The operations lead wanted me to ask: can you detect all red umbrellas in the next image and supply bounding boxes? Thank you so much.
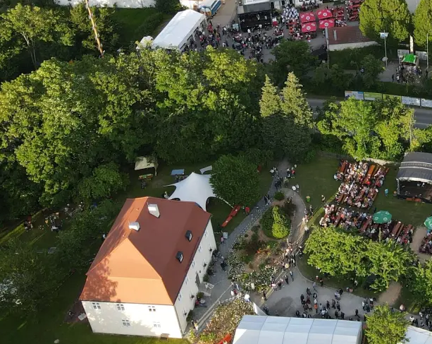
[300,24,318,40]
[316,9,335,20]
[299,13,316,25]
[318,20,337,35]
